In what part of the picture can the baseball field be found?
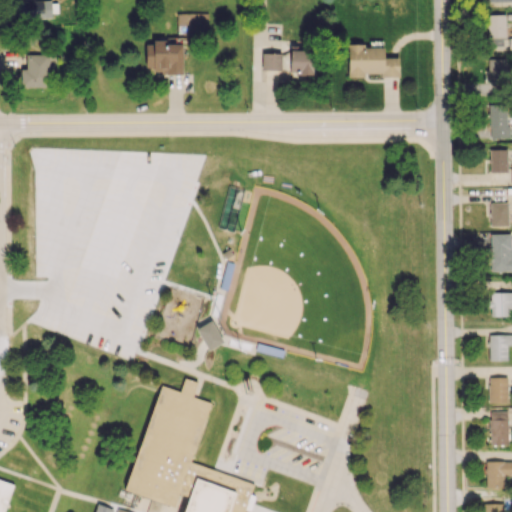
center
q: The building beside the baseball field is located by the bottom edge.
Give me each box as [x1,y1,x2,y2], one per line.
[126,379,256,512]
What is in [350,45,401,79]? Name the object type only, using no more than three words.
house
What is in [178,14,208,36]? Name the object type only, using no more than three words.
shed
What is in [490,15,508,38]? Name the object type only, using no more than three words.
house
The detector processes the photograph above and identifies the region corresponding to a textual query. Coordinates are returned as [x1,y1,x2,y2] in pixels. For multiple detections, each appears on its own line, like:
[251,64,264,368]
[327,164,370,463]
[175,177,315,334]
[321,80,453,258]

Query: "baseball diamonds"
[220,187,372,371]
